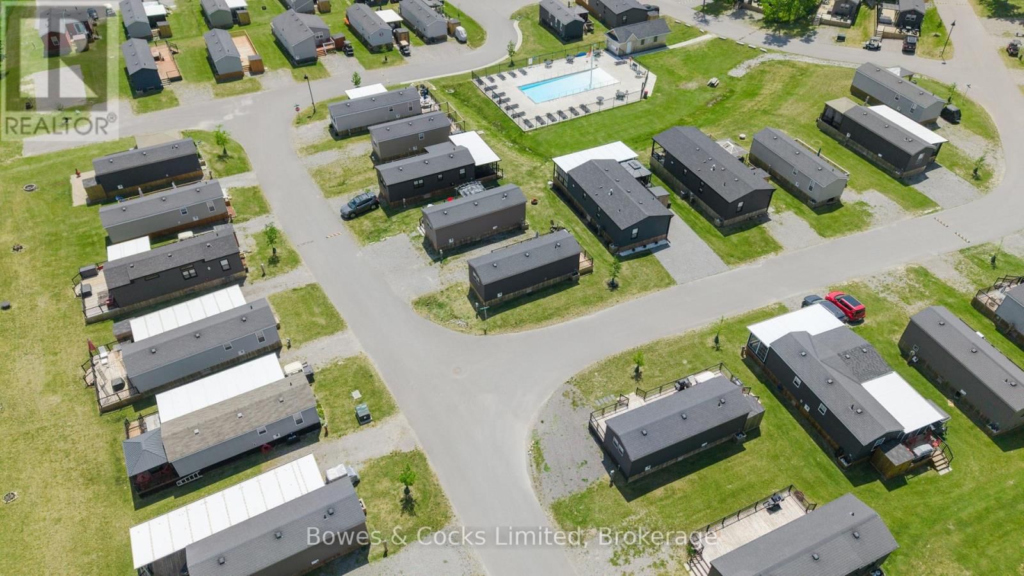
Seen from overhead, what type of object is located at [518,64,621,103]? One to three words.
swimming pool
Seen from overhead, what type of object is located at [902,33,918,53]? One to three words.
car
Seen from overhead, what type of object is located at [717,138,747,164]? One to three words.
gazebo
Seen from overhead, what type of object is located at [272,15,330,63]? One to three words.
house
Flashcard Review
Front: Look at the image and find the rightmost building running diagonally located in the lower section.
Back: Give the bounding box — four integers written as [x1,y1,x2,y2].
[904,306,1024,432]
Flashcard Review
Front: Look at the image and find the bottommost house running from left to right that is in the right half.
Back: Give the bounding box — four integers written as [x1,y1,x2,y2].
[710,493,900,576]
